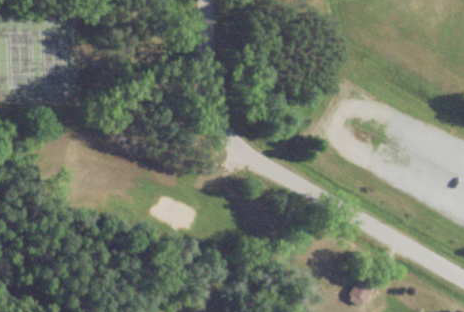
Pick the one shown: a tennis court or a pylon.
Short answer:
tennis court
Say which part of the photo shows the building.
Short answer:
bottom right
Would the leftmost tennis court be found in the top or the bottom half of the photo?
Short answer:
top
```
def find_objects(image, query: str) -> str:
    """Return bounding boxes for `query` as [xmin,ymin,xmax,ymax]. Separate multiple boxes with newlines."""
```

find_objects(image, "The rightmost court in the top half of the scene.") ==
[38,22,79,100]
